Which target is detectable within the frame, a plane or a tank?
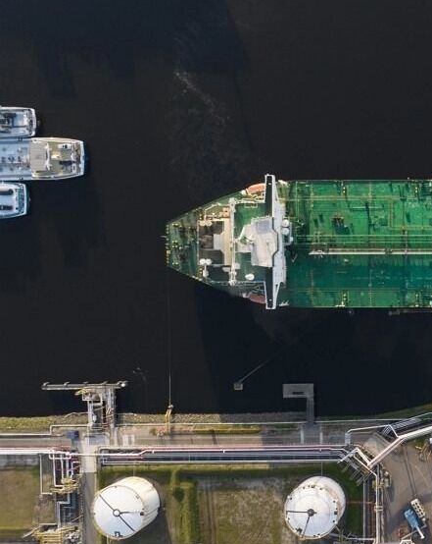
tank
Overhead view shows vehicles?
Yes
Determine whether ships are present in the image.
Yes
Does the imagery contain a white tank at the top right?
No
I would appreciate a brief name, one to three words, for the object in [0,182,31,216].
ship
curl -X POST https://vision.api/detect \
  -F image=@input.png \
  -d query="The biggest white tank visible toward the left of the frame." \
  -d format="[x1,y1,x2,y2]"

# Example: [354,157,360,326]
[89,476,159,539]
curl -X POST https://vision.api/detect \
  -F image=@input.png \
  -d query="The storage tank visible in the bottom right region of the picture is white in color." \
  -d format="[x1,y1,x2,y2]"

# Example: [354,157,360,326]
[284,477,345,540]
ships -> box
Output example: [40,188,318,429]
[0,182,31,216]
[0,106,39,137]
[0,137,88,180]
[166,173,432,313]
